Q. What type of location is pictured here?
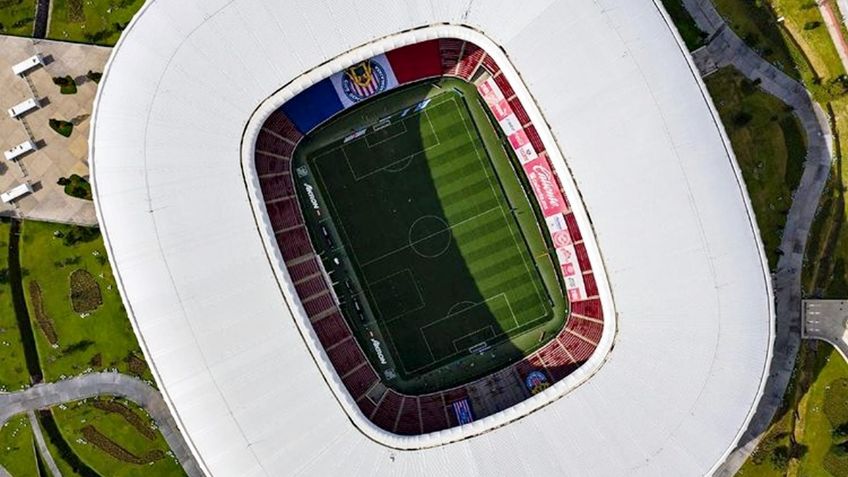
sports ground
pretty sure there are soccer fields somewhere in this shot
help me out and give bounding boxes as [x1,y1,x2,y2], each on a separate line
[292,76,569,396]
